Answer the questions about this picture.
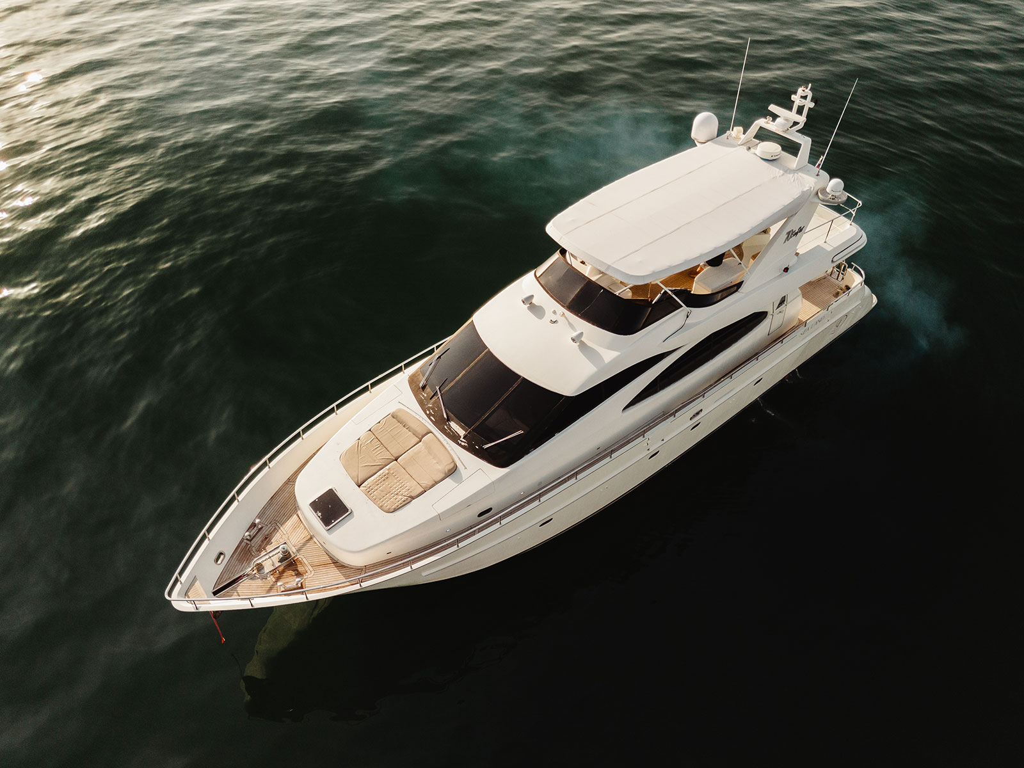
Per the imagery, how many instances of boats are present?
1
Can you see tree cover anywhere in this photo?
No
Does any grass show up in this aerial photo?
No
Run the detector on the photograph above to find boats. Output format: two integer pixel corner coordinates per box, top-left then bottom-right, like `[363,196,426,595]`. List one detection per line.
[165,38,872,620]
